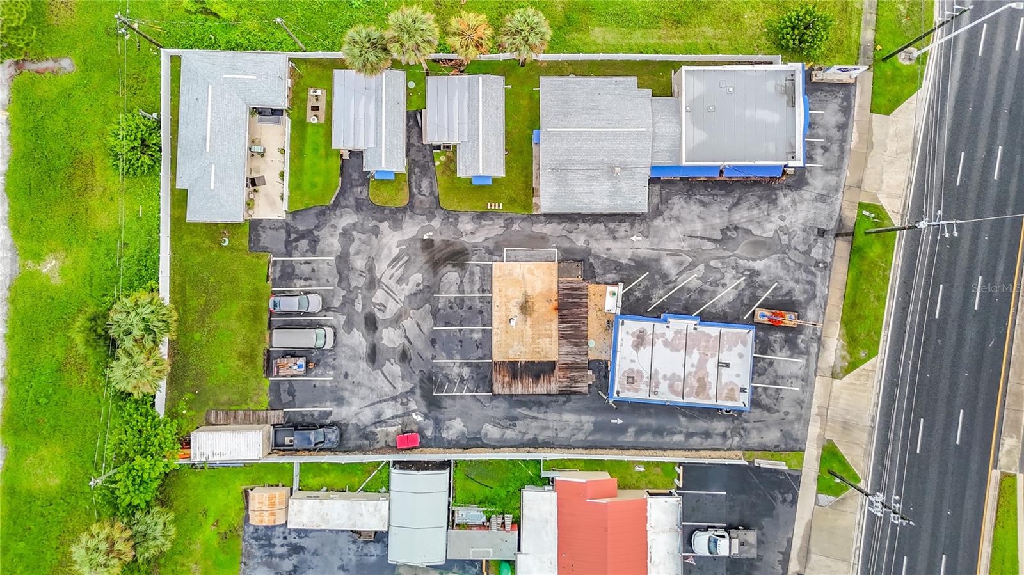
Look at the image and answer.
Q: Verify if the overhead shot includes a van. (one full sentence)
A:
Yes, the image includes a van.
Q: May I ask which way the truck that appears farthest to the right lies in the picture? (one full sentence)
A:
The truck that appears farthest to the right is oriented from left to right.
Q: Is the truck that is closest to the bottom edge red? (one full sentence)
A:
No, the truck that is closest to the bottom edge is white.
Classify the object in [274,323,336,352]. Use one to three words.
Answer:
van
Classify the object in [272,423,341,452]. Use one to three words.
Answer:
truck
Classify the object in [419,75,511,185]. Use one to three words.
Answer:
house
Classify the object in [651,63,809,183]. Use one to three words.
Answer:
building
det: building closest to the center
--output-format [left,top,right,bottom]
[492,261,559,362]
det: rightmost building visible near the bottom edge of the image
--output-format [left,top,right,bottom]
[516,471,683,575]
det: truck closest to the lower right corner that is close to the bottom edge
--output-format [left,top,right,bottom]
[689,525,757,559]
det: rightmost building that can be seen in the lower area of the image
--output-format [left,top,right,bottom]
[605,313,755,410]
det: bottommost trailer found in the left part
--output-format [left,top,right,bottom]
[288,493,389,536]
